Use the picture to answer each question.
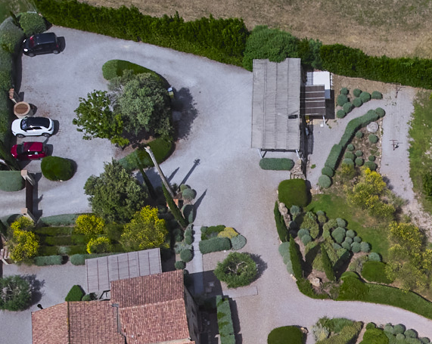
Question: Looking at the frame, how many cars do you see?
3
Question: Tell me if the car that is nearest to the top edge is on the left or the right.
left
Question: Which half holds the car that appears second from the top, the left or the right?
left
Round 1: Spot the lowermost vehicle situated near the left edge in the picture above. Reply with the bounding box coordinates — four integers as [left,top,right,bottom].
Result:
[11,139,50,163]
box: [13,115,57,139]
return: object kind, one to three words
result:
car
